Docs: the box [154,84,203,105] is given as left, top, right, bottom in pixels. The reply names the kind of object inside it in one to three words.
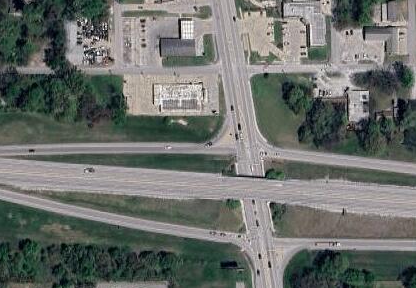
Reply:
building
